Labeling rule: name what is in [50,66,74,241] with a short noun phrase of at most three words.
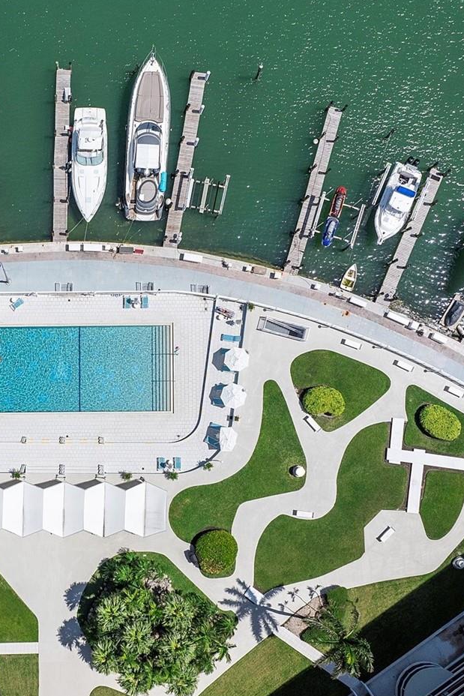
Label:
pier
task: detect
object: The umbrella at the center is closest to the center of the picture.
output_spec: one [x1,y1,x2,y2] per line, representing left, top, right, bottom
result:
[223,347,248,373]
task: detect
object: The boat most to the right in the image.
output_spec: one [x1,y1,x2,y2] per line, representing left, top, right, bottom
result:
[373,156,422,247]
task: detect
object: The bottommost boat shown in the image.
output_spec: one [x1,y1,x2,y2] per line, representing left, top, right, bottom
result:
[340,265,357,292]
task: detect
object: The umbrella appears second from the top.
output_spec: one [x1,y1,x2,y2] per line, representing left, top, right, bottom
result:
[221,383,246,409]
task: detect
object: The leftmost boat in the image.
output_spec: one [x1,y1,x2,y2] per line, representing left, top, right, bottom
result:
[69,107,108,225]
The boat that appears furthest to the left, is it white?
Yes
